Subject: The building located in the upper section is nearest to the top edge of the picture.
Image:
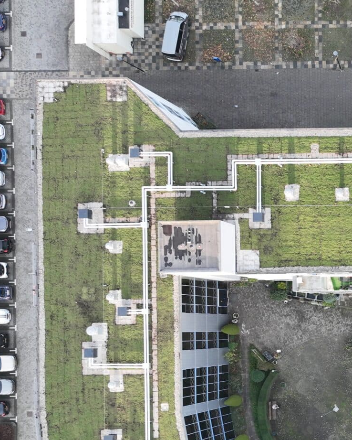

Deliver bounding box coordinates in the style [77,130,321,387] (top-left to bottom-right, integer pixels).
[75,0,145,58]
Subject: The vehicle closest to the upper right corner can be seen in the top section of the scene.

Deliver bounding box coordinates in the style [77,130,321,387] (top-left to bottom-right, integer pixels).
[161,11,192,63]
